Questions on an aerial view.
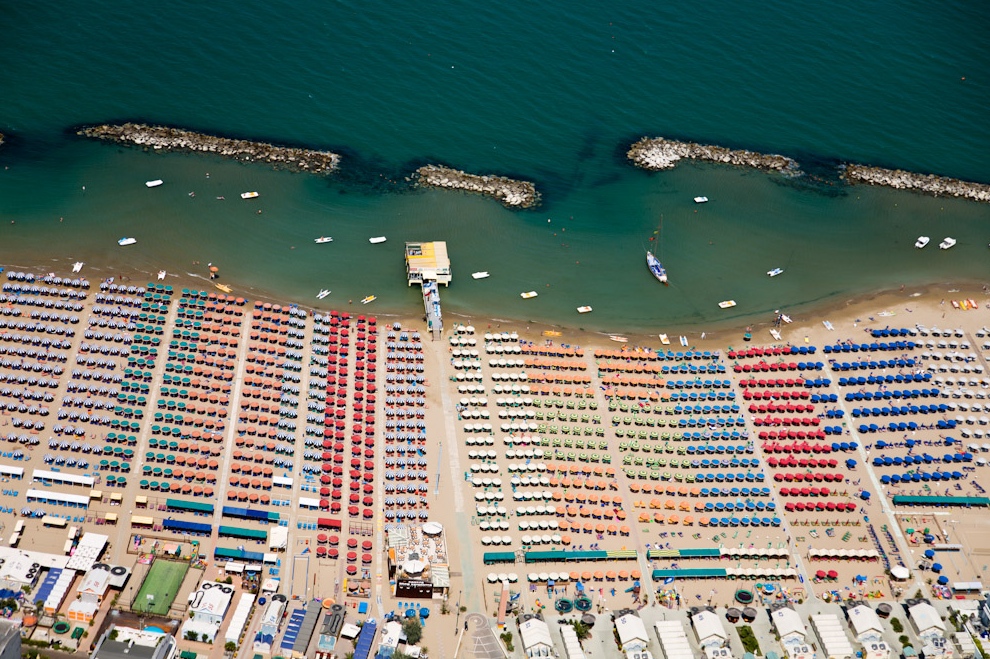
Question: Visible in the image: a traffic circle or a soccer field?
soccer field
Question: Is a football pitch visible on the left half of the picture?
Yes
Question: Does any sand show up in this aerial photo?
Yes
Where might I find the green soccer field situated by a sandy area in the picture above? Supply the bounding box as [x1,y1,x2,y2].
[131,548,189,615]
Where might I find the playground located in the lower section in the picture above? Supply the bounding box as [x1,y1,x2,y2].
[755,581,788,604]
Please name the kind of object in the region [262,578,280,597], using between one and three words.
gazebo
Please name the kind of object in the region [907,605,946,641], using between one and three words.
house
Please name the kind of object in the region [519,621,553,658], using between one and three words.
house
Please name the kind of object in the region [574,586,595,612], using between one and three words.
trampoline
